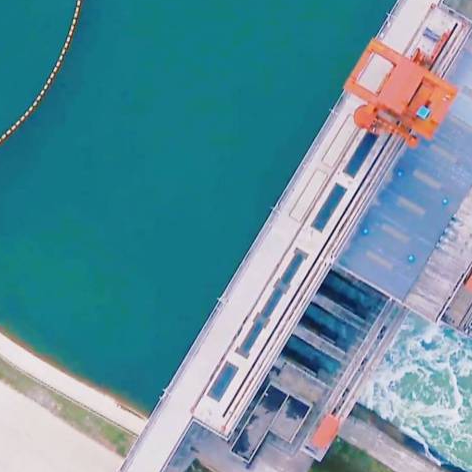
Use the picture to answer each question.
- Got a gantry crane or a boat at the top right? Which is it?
gantry crane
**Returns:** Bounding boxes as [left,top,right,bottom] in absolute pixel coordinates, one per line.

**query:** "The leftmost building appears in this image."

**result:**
[231,383,290,462]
